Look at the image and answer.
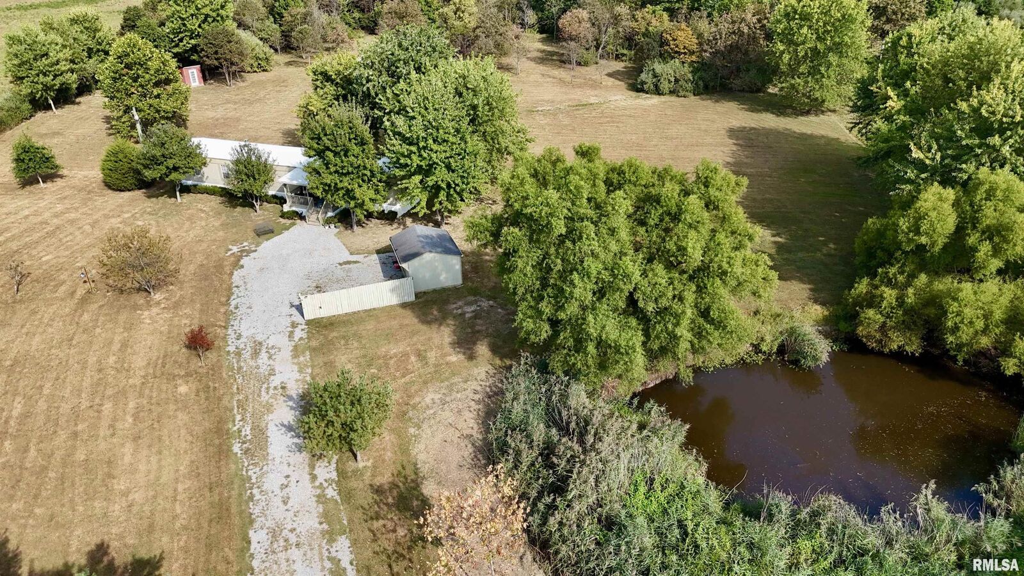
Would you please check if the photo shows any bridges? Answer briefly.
No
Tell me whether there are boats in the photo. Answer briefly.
No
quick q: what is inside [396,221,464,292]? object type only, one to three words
shed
